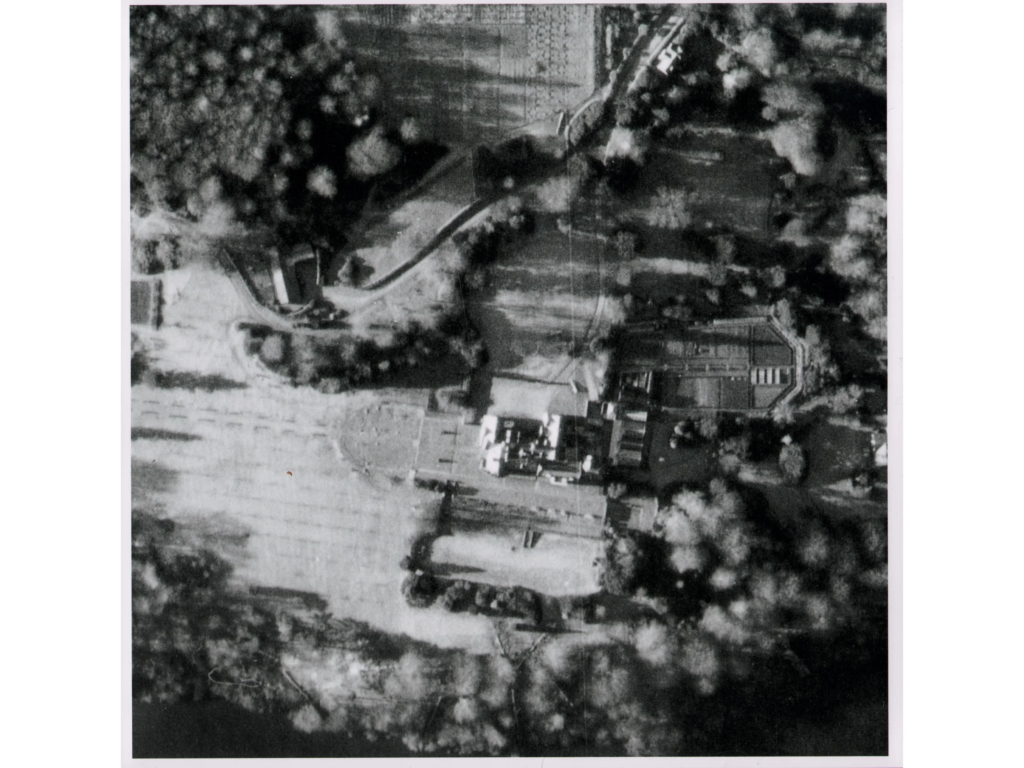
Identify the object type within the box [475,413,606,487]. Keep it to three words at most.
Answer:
house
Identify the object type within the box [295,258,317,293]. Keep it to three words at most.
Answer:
shed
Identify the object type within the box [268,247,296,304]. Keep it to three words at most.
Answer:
barn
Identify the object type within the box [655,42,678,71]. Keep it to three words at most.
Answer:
house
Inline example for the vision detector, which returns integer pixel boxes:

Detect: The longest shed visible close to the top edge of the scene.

[647,16,685,63]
